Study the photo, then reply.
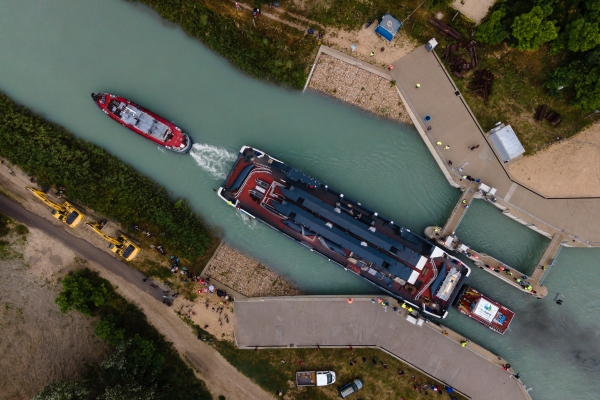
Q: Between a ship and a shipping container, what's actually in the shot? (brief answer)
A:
ship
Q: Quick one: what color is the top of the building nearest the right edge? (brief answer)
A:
white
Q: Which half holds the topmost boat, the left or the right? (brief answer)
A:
left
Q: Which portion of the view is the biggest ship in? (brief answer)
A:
center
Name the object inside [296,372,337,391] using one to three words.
vehicle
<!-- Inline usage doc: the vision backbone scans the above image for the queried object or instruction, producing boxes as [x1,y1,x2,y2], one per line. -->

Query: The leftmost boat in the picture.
[90,91,195,155]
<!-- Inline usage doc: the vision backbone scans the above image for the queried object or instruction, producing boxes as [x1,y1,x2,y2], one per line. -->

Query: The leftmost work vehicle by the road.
[27,189,93,228]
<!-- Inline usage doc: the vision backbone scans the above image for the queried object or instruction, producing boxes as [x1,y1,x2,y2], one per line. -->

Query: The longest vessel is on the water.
[216,145,473,319]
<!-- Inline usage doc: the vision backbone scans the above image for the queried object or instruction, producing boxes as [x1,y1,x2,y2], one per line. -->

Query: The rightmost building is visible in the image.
[488,121,530,170]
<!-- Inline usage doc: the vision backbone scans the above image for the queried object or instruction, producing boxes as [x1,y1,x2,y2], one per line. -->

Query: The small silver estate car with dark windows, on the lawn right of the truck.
[337,378,364,400]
